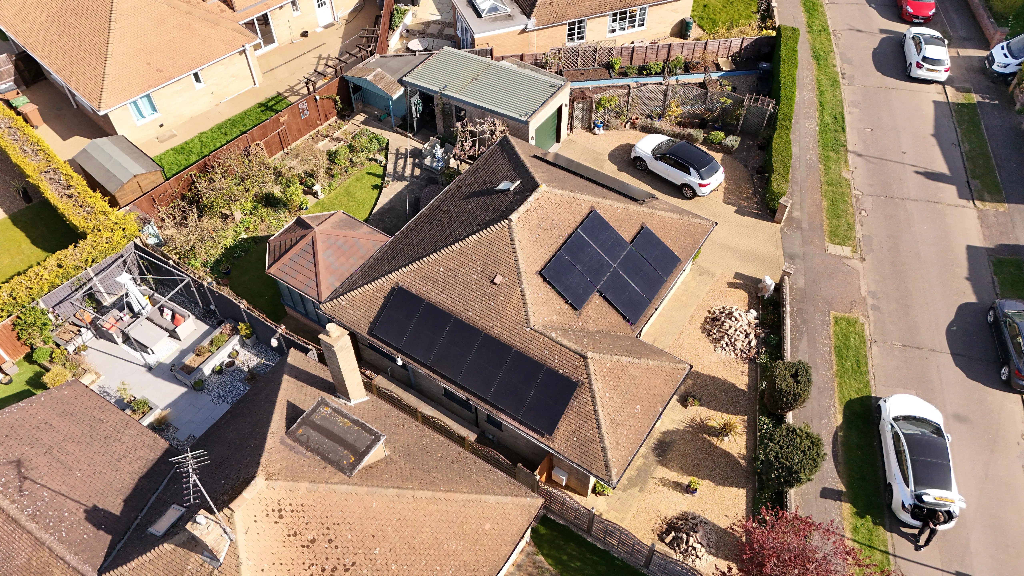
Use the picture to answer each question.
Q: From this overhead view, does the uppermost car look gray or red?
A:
red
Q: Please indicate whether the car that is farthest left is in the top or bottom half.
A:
top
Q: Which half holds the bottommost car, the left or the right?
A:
right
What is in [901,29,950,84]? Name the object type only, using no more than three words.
car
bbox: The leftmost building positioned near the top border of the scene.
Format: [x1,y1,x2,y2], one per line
[0,0,339,146]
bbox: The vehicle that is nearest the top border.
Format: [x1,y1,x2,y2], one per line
[893,0,936,20]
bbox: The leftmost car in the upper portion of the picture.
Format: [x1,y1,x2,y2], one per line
[633,134,730,204]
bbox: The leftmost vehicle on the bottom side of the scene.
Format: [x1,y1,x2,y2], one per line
[874,397,966,537]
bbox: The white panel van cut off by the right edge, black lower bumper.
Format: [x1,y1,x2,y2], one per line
[986,37,1024,89]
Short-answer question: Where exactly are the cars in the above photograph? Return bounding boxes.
[874,397,966,537]
[988,294,1024,399]
[633,134,730,204]
[893,0,936,20]
[901,29,950,84]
